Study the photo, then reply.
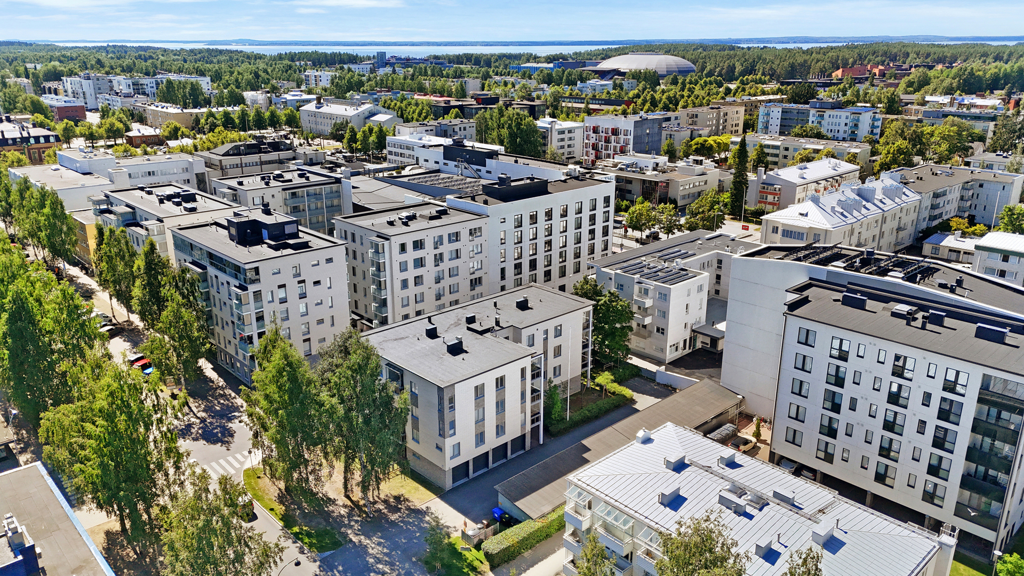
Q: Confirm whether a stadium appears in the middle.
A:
No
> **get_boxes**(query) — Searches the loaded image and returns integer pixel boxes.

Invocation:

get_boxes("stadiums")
[589,53,699,83]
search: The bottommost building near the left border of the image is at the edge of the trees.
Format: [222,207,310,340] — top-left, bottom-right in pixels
[0,461,114,576]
